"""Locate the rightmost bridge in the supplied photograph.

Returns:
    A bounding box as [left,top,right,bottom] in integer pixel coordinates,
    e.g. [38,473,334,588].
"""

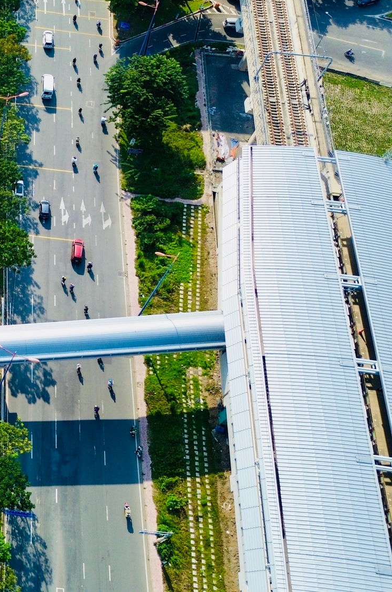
[224,0,341,212]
